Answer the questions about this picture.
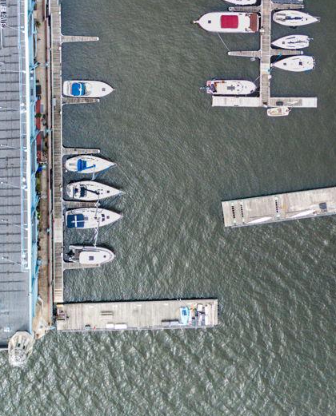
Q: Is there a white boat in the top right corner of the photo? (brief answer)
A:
Yes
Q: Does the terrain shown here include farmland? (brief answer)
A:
No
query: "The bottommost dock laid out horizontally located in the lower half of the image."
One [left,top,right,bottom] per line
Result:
[56,297,218,332]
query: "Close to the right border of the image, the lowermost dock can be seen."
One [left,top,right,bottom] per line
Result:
[221,186,336,228]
